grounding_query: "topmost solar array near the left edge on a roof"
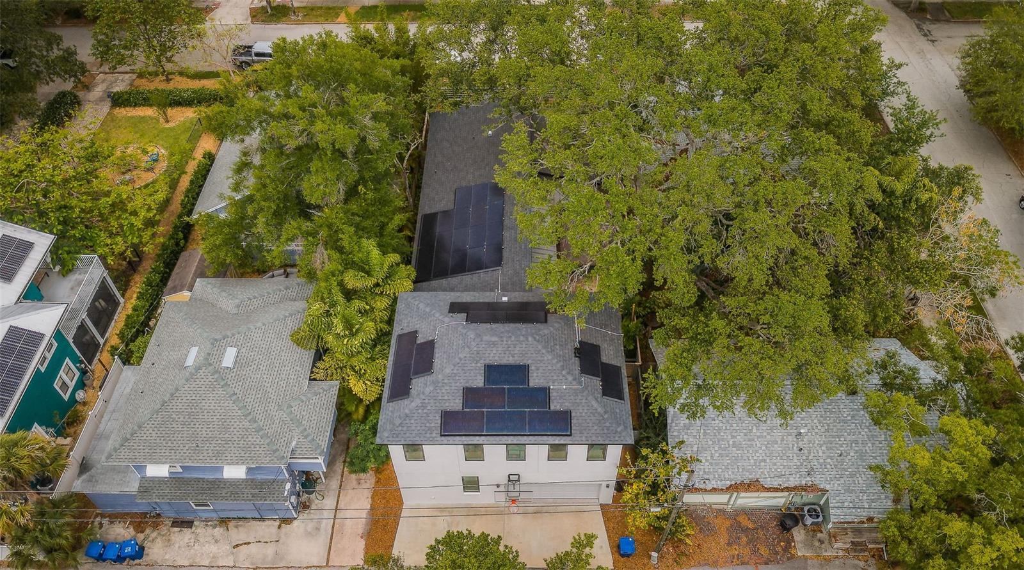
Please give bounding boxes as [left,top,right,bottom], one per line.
[0,234,31,281]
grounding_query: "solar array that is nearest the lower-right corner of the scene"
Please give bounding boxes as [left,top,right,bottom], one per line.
[579,341,623,401]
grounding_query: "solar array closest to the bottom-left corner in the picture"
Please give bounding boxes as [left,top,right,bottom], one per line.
[0,326,43,417]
